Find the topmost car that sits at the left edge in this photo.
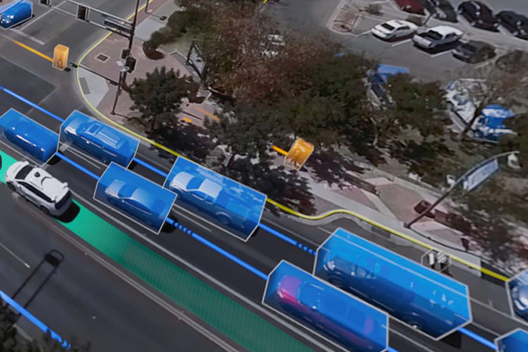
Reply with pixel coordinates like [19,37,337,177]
[0,0,33,29]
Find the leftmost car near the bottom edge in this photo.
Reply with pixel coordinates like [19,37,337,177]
[277,282,386,352]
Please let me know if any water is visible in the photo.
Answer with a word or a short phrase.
No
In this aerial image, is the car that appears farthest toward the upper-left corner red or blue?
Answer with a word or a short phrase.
blue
